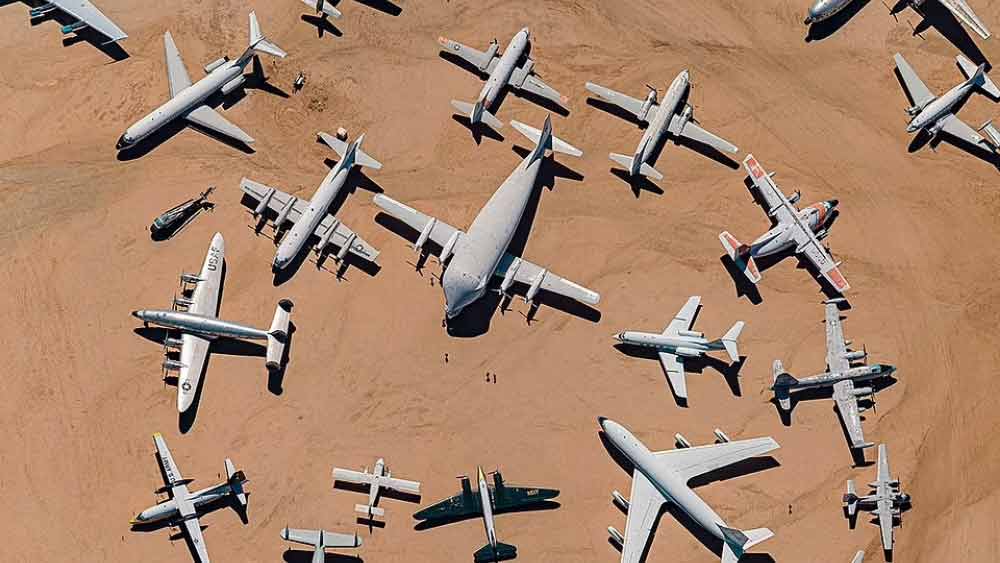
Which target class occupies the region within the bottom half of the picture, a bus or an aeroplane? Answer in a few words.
aeroplane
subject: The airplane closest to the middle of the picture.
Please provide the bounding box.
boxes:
[374,117,600,317]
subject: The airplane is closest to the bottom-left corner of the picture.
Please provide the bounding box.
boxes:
[129,431,248,563]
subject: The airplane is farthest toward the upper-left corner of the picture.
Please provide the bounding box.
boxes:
[34,0,132,45]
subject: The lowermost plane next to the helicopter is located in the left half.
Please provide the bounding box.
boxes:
[132,232,293,411]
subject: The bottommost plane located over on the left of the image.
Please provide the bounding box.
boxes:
[280,524,363,563]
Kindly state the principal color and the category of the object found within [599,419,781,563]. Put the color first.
white airplane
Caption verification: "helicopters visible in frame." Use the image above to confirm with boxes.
[150,181,218,227]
